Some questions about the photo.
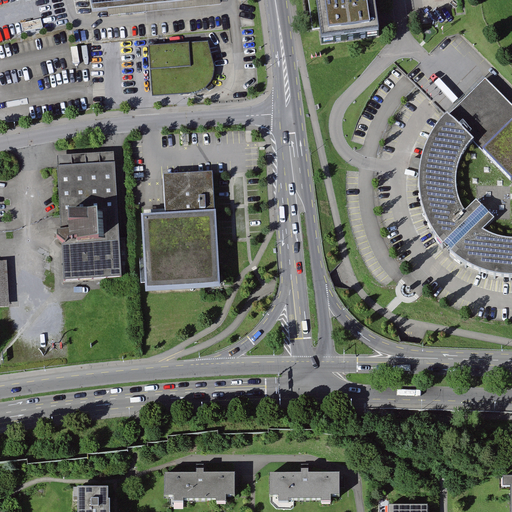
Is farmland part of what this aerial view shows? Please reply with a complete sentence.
No, there's no farmland in this view.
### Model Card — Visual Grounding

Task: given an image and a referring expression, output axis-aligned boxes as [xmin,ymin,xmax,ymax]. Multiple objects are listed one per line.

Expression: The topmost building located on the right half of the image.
[317,0,378,44]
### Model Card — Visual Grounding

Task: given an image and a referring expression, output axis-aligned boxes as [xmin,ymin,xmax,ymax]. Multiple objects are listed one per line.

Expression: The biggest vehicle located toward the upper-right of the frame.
[430,74,459,105]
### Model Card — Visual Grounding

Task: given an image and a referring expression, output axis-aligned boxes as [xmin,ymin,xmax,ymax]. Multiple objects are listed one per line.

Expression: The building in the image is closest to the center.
[140,208,220,294]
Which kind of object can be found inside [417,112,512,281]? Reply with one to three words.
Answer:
building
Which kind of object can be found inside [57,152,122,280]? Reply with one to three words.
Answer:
building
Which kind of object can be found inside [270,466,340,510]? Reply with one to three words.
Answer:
house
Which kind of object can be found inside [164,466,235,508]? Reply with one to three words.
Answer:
house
